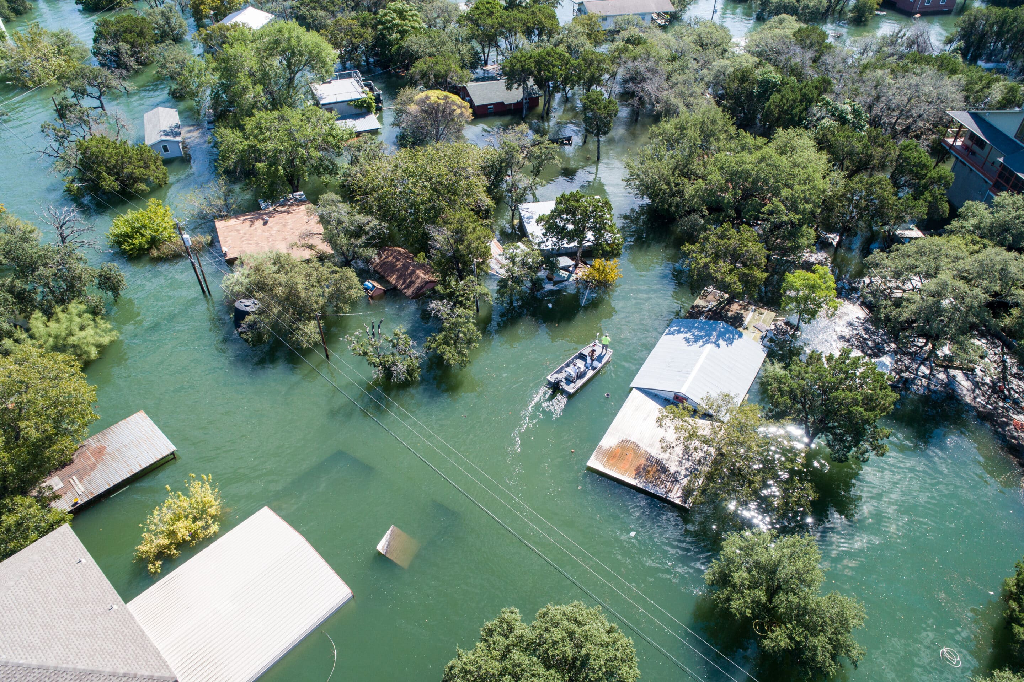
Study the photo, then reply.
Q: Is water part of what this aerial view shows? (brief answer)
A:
Yes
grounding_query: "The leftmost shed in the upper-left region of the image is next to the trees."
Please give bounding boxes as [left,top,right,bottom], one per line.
[146,112,187,161]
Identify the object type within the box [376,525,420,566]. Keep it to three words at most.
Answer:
shed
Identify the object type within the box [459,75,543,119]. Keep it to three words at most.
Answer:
house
